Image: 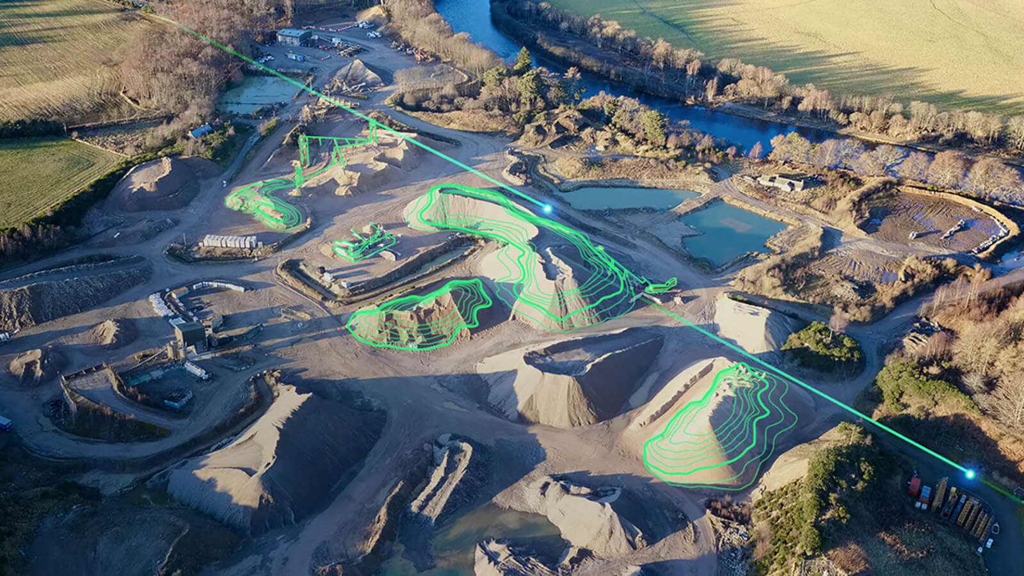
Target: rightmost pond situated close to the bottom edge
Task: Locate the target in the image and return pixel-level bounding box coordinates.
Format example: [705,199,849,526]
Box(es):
[378,504,557,576]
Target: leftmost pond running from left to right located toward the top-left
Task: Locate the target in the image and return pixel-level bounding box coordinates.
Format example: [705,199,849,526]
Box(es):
[219,75,305,113]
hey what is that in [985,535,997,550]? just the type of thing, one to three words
vehicle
